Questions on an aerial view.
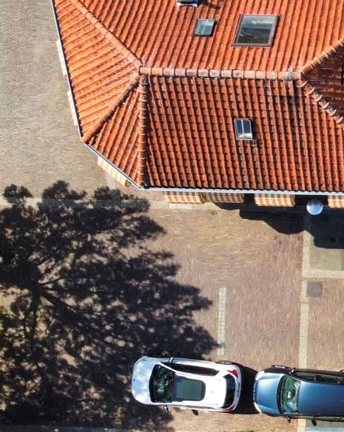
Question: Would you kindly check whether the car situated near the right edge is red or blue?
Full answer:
In this view, the car situated near the right edge is blue.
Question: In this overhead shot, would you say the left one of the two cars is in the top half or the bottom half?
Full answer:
The bottom half of the photo is where the left one of the two cars is.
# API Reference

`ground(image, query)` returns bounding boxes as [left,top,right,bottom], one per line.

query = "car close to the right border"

[252,363,344,422]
